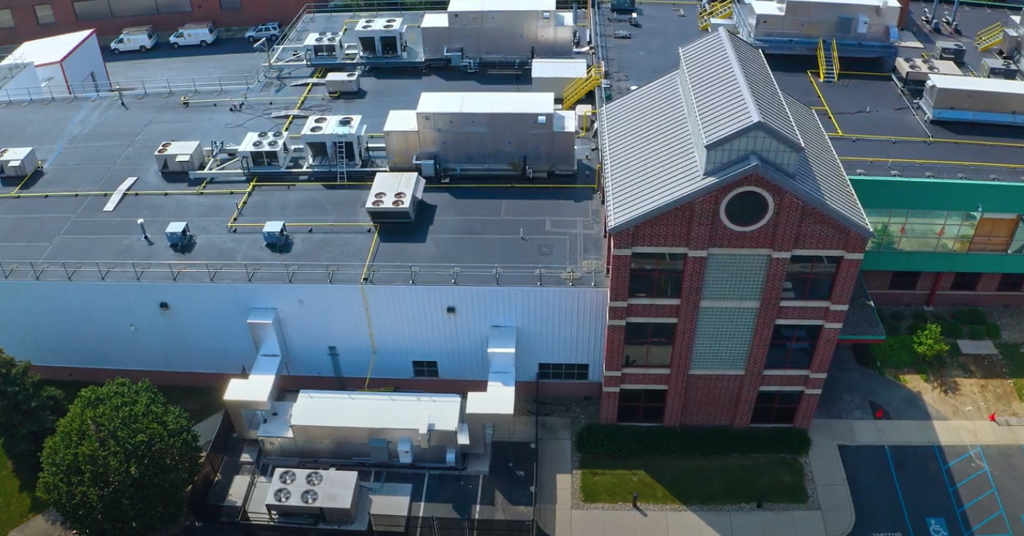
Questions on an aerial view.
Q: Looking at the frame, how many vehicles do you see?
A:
three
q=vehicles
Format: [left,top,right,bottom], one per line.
[108,25,161,53]
[244,19,288,41]
[170,21,222,48]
